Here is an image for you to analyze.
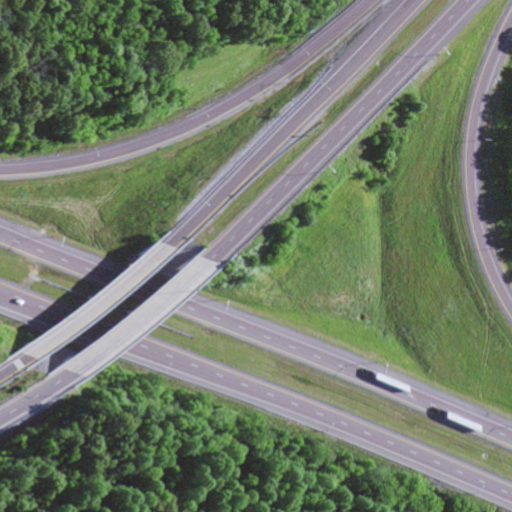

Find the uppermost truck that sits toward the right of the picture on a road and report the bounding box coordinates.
[364,369,410,392]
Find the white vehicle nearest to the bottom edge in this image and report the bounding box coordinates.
[436,408,482,431]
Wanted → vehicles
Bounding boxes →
[436,408,482,431]
[15,298,25,305]
[364,369,410,392]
